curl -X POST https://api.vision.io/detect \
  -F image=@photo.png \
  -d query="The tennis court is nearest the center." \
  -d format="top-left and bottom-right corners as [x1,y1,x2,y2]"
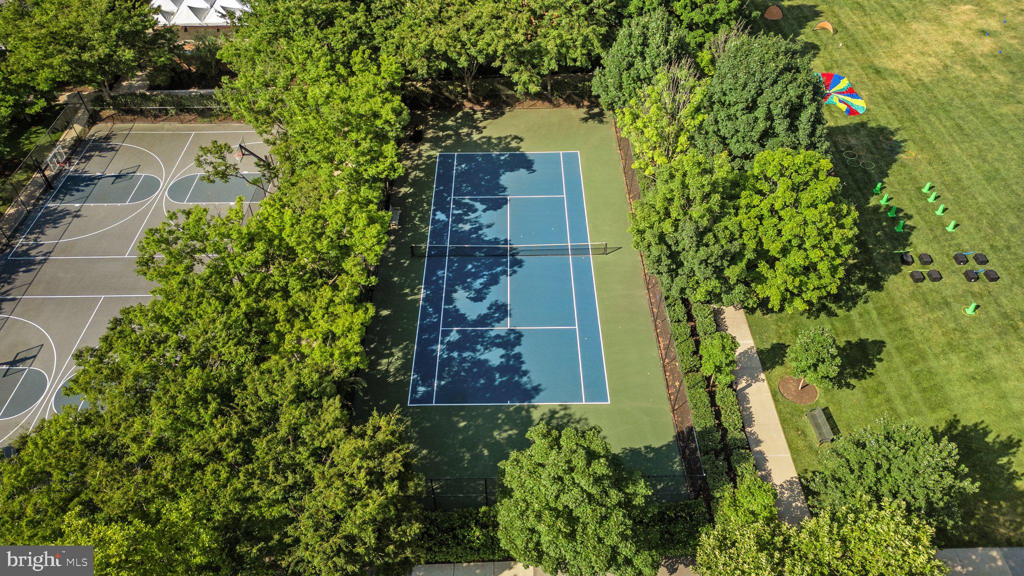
[333,107,689,504]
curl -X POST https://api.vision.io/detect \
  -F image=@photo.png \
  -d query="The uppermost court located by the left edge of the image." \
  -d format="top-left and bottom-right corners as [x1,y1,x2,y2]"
[0,123,300,277]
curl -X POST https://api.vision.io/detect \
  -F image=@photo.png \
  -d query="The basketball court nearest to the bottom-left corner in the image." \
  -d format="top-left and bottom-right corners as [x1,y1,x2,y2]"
[0,275,226,529]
